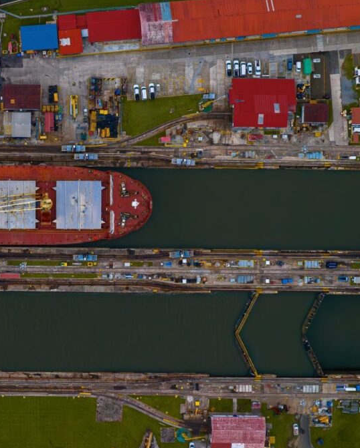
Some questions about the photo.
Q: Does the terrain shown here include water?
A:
Yes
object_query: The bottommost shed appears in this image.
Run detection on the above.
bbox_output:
[209,414,267,448]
